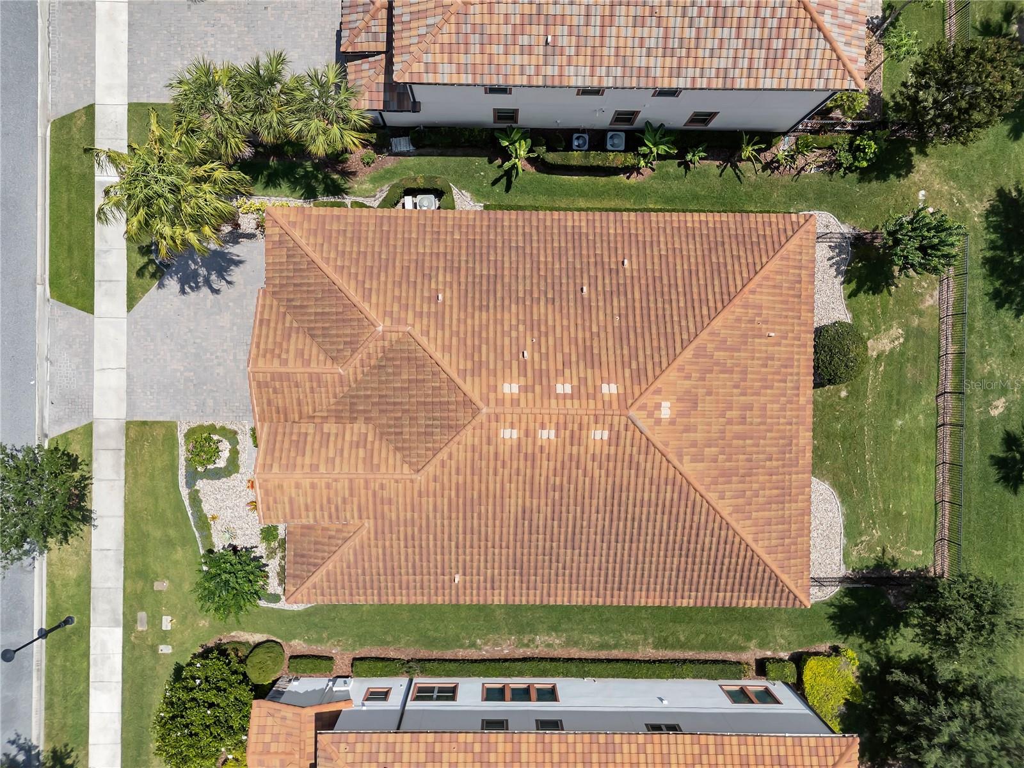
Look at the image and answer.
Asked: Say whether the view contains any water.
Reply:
No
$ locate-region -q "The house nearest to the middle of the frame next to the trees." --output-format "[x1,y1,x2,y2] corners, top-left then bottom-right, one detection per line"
[246,207,817,610]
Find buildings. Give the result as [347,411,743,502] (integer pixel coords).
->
[242,673,861,768]
[246,207,817,610]
[339,0,867,137]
